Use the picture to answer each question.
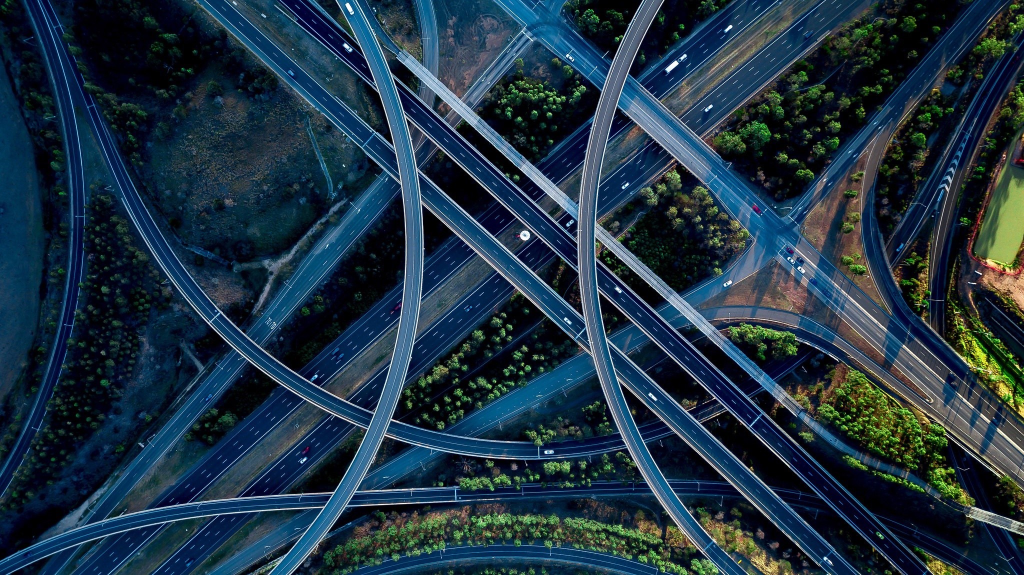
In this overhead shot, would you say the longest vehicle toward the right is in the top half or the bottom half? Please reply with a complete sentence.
The top half of the photo is where the longest vehicle toward the right is.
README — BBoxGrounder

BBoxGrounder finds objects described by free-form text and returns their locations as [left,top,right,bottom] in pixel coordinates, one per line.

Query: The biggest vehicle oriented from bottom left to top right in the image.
[667,50,690,70]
